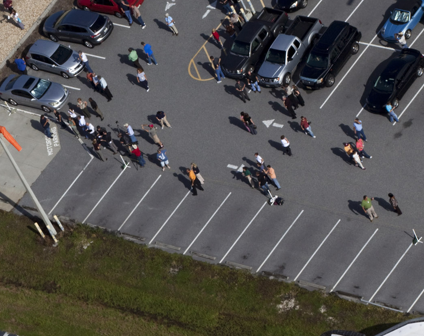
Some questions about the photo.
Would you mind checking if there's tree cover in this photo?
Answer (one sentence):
No, the scene doesn't show any tree cover.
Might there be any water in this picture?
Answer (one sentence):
No, the scene doesn't show any water.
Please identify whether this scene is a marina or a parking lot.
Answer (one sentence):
It's a parking lot.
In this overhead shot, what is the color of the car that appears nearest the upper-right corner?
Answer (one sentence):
The car that appears nearest the upper-right corner looks blue in the image.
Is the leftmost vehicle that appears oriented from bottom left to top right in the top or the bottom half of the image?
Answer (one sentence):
Seen from above, the leftmost vehicle that appears oriented from bottom left to top right lies in the top half of the view.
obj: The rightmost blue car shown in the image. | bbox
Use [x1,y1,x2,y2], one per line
[379,0,424,41]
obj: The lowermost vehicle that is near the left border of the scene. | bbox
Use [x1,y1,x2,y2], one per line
[0,73,71,114]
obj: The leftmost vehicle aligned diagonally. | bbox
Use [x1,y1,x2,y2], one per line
[214,2,288,82]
